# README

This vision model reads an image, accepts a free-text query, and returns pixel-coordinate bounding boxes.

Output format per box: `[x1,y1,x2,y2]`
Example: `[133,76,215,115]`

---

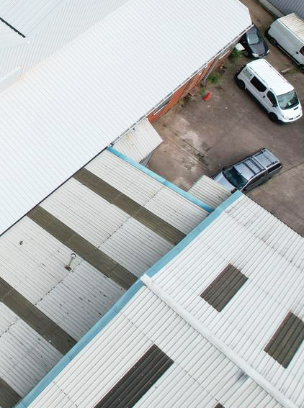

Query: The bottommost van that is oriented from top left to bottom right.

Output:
[233,53,304,123]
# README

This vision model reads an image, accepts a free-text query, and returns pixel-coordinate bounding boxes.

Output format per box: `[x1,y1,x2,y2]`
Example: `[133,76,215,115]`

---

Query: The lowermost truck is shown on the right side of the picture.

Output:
[207,144,290,196]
